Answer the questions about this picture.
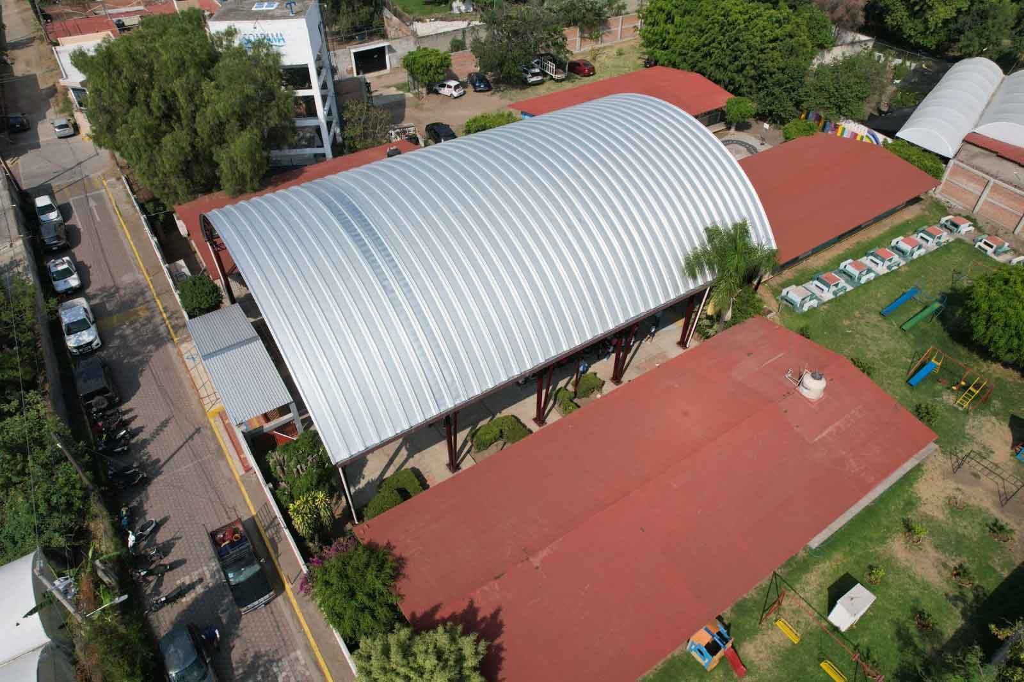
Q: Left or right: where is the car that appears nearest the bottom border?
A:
left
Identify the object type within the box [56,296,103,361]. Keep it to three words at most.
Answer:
truck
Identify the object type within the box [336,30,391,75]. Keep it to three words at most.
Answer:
building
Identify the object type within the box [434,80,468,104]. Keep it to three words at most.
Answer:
car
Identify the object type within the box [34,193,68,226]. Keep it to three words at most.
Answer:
van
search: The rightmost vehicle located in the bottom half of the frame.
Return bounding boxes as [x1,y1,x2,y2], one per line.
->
[198,493,278,622]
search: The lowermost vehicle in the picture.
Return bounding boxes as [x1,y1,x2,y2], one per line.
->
[160,615,228,682]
